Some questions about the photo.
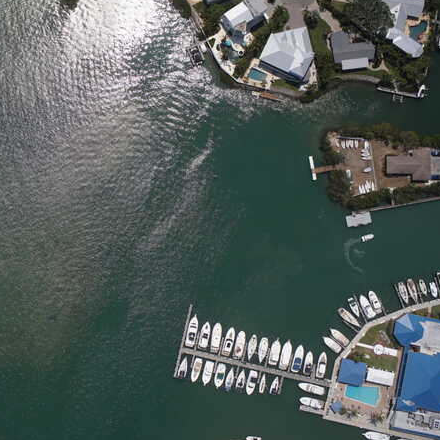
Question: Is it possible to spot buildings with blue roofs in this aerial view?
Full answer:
Yes, there's a building with a blue roof here.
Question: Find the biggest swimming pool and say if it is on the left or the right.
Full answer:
You can find the biggest swimming pool on the right side of the picture.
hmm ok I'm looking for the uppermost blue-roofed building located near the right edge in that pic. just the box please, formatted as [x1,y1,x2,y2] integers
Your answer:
[390,313,423,346]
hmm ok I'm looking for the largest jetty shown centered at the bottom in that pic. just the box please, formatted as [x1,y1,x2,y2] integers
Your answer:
[173,304,331,395]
